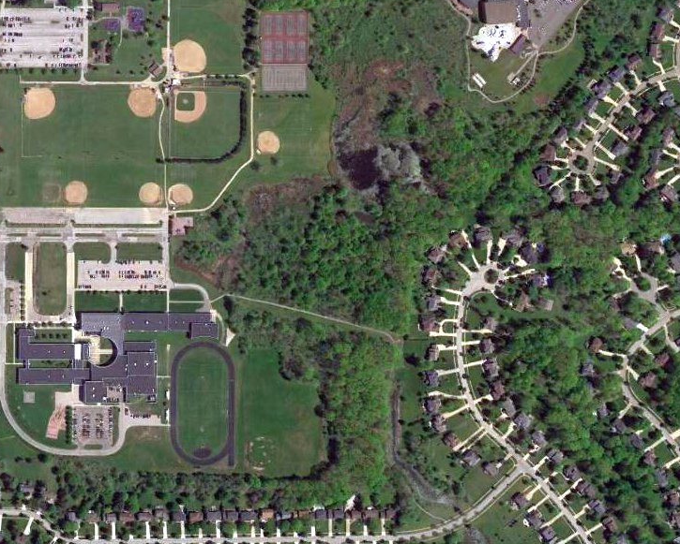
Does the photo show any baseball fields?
Yes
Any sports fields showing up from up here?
Yes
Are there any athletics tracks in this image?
Yes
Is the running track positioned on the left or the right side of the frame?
left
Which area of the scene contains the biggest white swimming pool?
top right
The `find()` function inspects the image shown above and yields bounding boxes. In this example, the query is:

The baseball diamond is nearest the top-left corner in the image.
[22,86,55,119]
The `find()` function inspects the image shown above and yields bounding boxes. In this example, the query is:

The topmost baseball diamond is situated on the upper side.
[171,39,206,73]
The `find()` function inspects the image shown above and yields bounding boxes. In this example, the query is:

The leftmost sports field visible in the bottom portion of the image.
[178,349,227,459]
